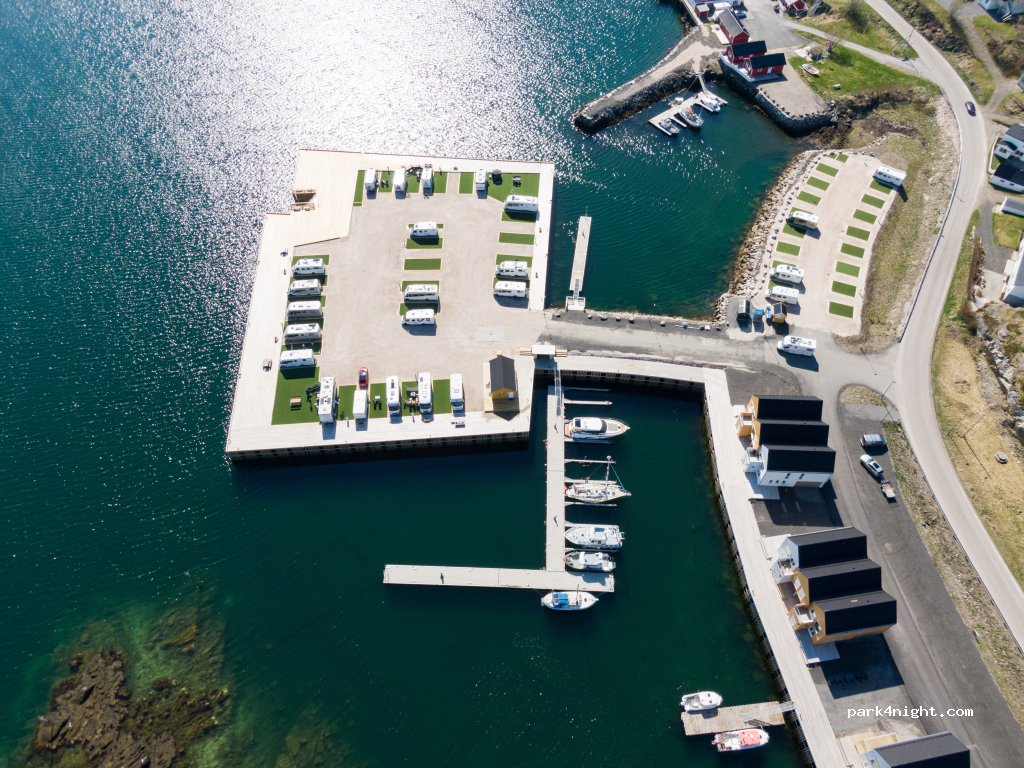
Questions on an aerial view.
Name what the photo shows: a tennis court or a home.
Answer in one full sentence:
It is a home that can be seen here.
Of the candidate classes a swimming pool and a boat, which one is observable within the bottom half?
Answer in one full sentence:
The feature located within the bottom half is a boat.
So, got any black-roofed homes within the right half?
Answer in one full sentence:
Yes, within the right half there is a black-roofed home.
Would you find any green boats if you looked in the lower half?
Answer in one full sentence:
No, no green boat appears in the lower half.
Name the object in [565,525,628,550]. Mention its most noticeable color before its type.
white boat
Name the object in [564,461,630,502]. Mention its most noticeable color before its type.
white boat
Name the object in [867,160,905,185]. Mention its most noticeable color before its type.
white camper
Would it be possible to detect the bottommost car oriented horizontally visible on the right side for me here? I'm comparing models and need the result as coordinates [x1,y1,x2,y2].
[859,434,889,448]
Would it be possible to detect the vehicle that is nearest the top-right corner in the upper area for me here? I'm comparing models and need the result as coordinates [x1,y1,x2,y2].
[963,101,979,115]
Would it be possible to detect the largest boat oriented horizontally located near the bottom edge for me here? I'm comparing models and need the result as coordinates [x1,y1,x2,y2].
[712,730,770,754]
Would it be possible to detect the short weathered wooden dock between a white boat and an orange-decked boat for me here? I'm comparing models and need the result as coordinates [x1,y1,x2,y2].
[681,701,784,735]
